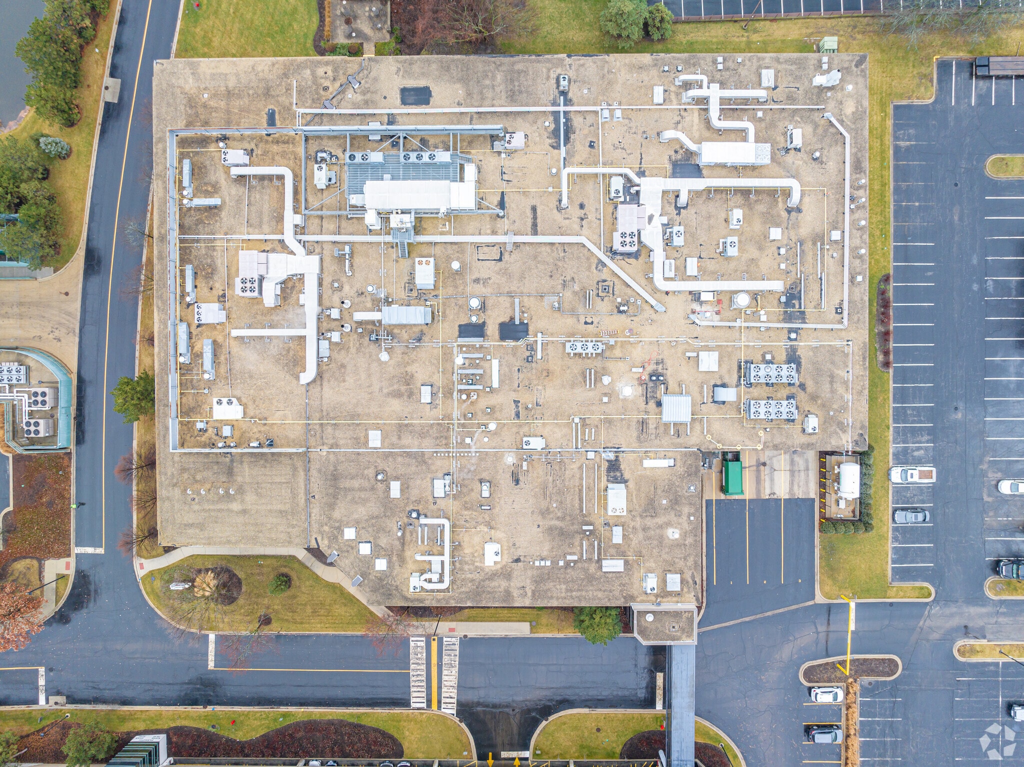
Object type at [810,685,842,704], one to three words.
car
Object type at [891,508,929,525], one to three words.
car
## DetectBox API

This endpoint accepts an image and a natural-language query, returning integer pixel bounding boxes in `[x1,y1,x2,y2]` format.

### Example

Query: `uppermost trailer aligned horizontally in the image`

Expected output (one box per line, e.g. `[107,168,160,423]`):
[971,56,1024,78]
